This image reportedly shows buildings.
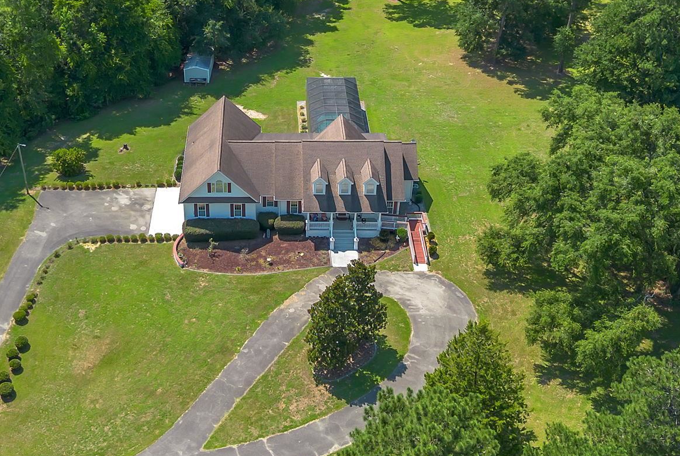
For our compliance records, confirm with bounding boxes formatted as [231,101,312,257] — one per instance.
[182,49,214,83]
[178,96,419,250]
